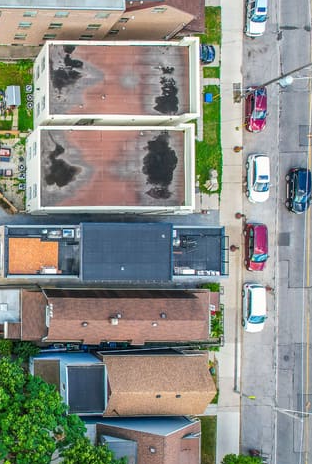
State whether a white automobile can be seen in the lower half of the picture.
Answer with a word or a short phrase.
Yes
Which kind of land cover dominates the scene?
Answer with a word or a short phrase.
buildings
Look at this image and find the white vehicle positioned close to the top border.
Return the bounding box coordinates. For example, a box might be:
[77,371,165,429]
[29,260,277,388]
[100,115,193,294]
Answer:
[241,0,269,37]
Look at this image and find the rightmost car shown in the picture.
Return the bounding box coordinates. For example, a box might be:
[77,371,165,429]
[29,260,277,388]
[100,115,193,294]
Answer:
[282,168,310,213]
